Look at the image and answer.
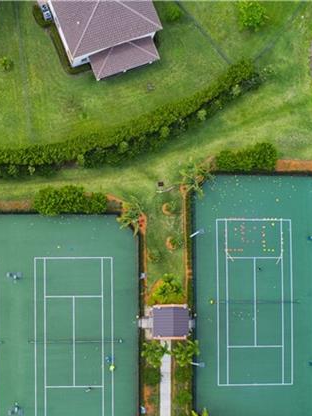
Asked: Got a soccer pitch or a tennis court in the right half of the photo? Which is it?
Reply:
tennis court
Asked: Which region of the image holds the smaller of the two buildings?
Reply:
bottom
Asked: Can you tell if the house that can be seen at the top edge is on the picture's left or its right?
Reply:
left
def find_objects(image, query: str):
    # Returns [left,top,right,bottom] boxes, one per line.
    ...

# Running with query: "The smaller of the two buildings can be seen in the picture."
[149,304,189,341]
